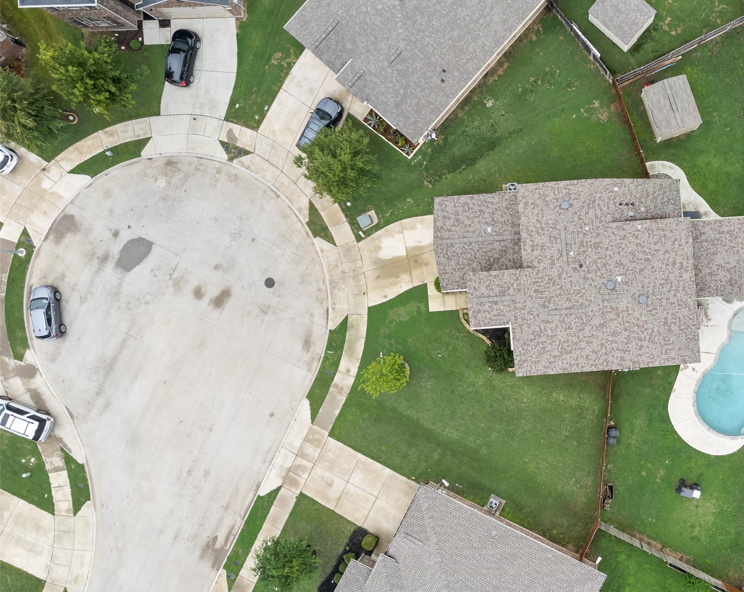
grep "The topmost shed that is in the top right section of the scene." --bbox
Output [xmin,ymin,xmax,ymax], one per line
[589,0,656,52]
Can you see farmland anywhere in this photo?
No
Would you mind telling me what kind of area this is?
residential area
